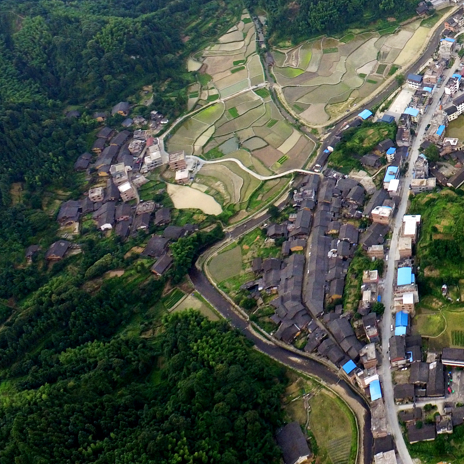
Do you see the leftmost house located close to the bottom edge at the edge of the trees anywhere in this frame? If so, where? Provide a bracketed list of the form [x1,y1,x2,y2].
[281,424,319,464]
